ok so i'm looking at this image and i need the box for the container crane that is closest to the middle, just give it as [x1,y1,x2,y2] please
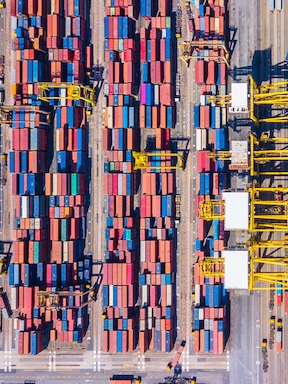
[133,152,185,171]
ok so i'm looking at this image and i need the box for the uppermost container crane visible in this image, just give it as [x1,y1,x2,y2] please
[177,41,227,68]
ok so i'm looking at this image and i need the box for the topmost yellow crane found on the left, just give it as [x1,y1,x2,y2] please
[36,81,94,105]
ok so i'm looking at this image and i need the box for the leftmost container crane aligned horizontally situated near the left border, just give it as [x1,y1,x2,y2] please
[0,105,52,128]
